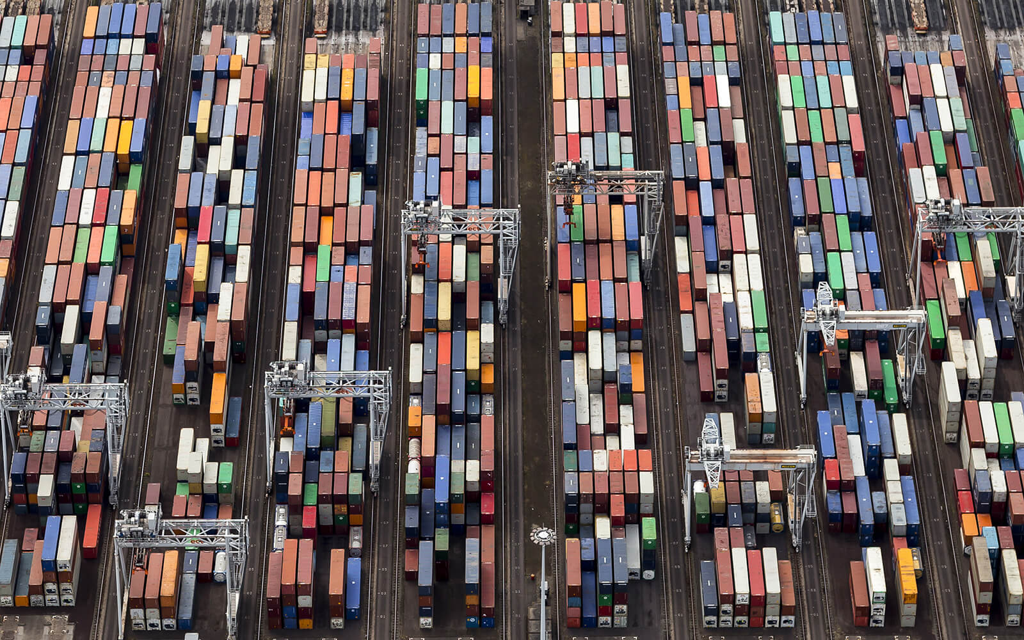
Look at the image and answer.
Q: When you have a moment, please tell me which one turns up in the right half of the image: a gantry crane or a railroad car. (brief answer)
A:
gantry crane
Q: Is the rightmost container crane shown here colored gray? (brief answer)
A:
Yes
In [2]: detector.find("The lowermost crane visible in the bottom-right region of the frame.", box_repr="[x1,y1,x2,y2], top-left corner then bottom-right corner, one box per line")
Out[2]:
[681,416,817,559]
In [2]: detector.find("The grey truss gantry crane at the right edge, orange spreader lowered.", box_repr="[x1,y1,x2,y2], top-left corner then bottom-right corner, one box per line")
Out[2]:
[911,183,1024,327]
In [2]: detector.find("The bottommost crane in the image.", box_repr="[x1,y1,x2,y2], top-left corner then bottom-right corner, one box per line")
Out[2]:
[110,493,248,638]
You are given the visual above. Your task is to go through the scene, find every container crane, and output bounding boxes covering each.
[546,147,665,291]
[911,183,1024,327]
[110,493,248,638]
[399,186,519,332]
[0,360,127,514]
[795,279,929,414]
[262,345,390,504]
[681,416,817,559]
